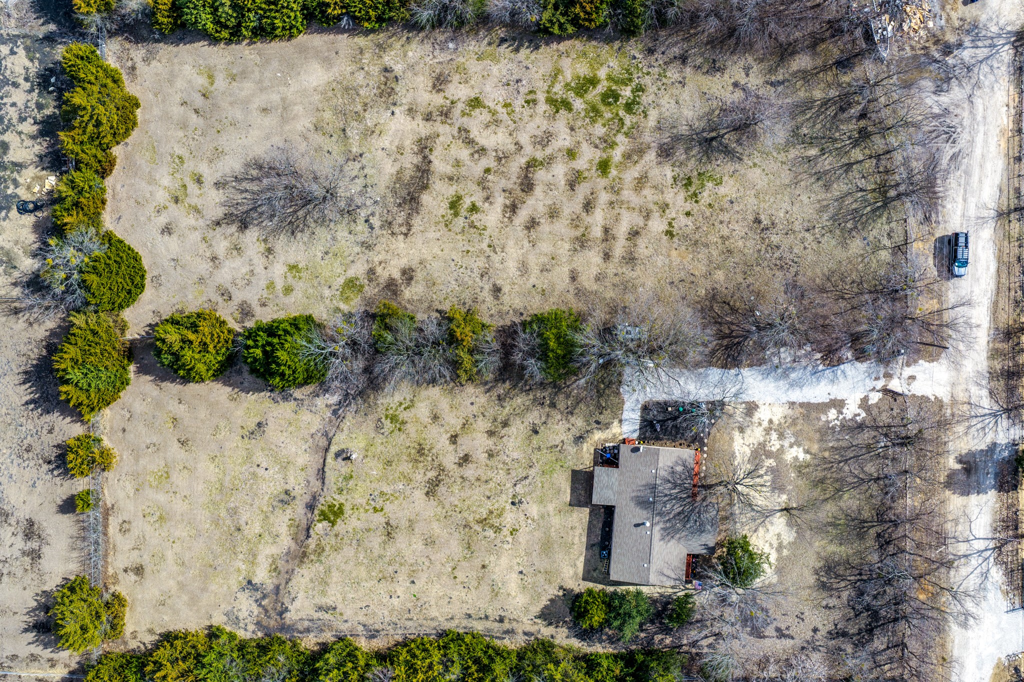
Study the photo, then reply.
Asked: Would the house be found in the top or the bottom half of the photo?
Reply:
bottom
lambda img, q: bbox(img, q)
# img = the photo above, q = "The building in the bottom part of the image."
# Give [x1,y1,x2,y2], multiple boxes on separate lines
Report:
[592,444,718,586]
